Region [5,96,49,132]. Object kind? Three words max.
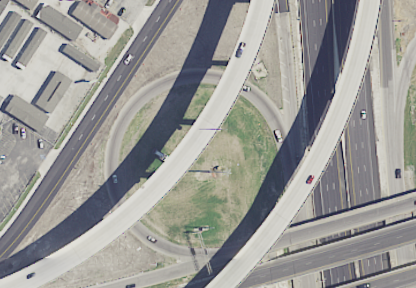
building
